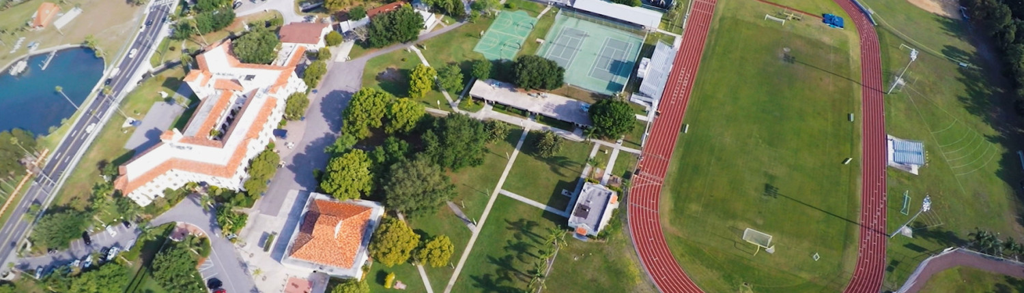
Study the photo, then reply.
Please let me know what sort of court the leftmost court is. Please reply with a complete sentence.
The leftmost court in the image is a basketball court.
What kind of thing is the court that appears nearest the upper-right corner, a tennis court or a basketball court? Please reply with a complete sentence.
The court that appears nearest the upper-right corner can be classified as a tennis court.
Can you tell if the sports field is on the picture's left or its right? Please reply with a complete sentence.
The sports field sits on the right side.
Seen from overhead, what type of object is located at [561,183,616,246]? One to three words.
building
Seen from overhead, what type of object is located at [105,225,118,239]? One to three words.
vehicle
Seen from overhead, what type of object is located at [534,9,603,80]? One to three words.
tennis court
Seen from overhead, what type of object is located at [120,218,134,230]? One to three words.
vehicle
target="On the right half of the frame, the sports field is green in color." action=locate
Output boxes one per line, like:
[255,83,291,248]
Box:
[657,0,860,293]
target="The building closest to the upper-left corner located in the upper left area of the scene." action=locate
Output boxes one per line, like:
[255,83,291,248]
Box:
[21,2,65,31]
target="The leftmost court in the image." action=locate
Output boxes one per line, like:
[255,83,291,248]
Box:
[473,9,537,61]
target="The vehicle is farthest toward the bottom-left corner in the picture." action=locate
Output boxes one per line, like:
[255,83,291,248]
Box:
[31,265,46,282]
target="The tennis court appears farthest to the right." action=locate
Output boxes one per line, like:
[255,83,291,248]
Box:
[576,23,647,94]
